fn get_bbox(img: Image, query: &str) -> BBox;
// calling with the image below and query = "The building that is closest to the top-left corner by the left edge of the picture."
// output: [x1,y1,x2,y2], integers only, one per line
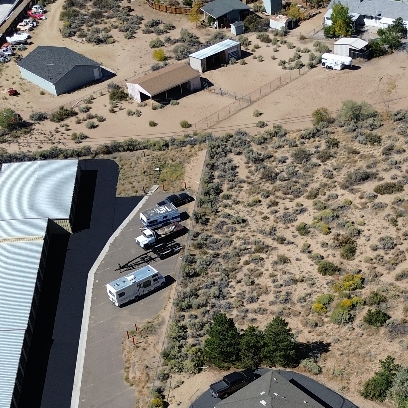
[17,51,89,98]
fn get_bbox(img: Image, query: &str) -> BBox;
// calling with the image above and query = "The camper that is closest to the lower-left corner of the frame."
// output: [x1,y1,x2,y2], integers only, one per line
[105,268,170,309]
